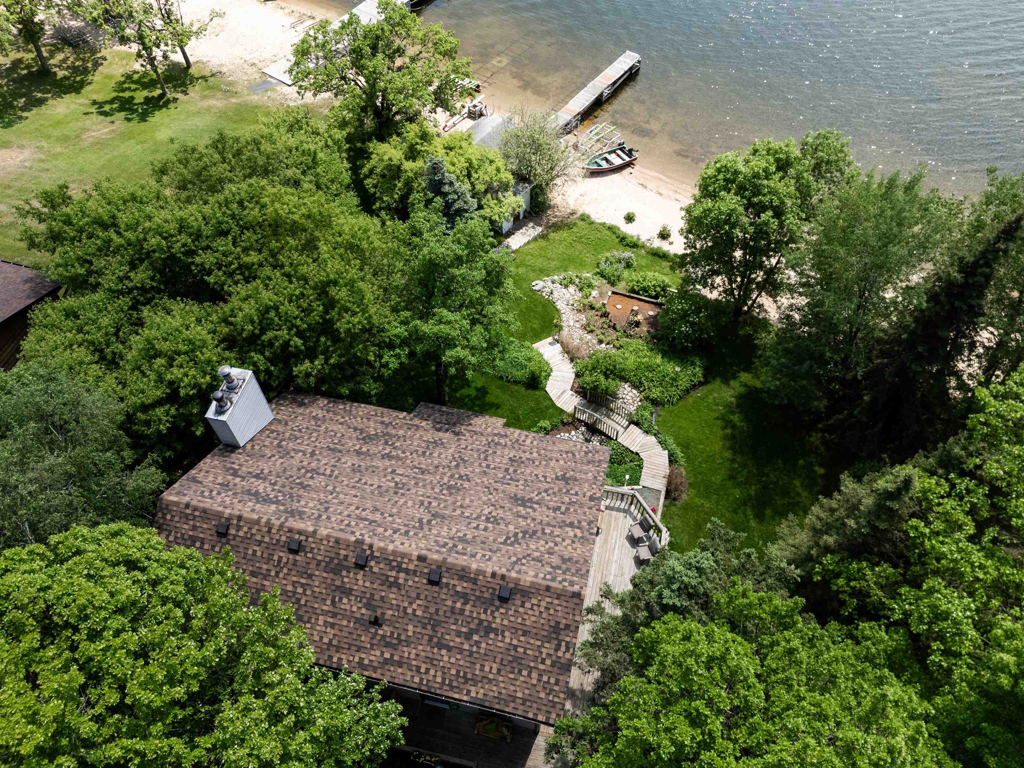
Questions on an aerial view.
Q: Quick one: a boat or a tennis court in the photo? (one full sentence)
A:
Of the two, only a boat appears.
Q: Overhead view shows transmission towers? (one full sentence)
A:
No, there isn't any transmission tower down there.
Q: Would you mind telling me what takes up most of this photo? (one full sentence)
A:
The scene is dominated by trees.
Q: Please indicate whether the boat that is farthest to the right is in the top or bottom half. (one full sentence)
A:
You can find the boat that is farthest to the right in the top half.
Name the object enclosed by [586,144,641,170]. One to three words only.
boat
